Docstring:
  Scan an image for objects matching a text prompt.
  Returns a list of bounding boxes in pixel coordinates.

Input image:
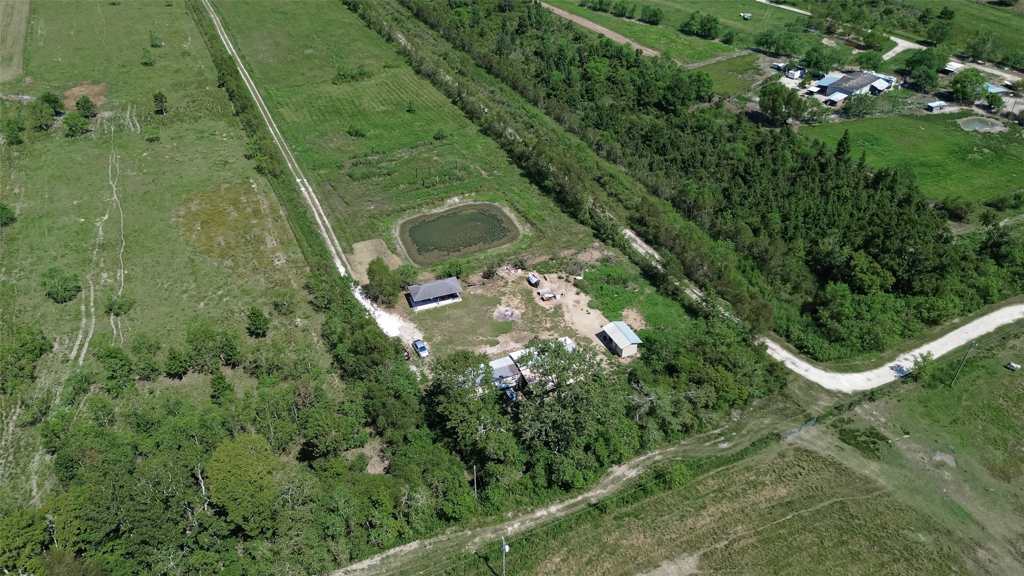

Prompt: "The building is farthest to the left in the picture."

[409,277,463,311]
